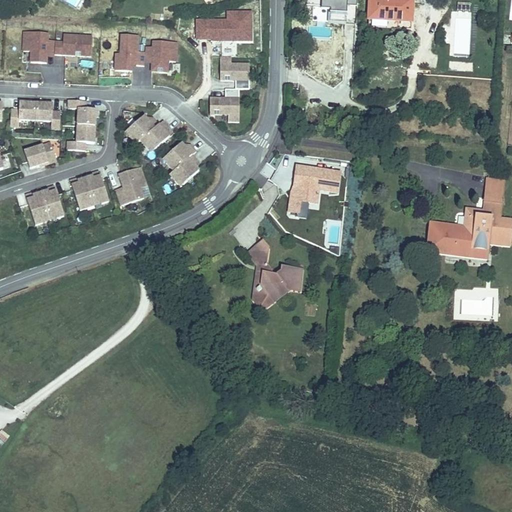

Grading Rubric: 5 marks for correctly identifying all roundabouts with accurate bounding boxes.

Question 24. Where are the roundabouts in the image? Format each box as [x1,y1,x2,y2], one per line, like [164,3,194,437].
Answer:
[212,130,276,203]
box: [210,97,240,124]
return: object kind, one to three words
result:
house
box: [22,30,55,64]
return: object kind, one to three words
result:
house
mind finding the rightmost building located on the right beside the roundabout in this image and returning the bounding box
[288,163,340,218]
